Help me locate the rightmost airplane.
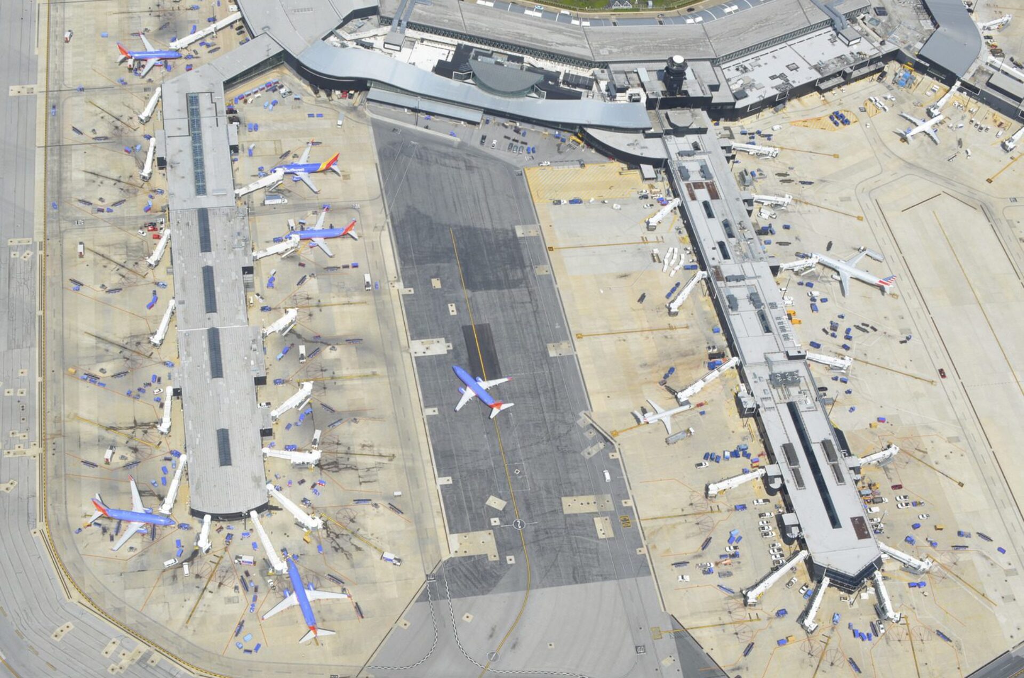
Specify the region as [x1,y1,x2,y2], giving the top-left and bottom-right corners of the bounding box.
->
[900,112,944,141]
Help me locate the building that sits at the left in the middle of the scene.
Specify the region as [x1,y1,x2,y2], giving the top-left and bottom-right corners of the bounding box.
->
[156,39,277,524]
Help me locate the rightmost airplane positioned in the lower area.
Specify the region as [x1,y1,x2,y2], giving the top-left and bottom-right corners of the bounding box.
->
[639,399,694,433]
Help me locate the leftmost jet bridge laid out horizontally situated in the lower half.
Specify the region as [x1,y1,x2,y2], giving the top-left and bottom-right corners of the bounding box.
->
[262,447,326,468]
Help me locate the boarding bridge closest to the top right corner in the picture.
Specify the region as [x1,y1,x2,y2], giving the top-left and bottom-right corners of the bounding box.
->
[978,15,1011,33]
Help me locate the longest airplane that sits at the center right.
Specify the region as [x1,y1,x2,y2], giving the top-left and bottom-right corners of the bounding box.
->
[809,251,895,293]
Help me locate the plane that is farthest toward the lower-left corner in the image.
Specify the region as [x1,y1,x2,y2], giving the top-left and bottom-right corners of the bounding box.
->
[88,476,176,551]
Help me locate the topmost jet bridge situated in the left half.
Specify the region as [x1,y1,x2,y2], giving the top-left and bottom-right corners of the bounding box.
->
[168,14,238,52]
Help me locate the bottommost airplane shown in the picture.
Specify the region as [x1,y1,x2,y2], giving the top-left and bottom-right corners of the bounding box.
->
[261,560,350,643]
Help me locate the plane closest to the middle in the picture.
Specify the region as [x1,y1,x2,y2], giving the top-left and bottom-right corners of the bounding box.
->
[452,367,515,418]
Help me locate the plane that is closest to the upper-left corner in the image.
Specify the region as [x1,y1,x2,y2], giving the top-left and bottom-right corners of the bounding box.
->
[116,30,182,76]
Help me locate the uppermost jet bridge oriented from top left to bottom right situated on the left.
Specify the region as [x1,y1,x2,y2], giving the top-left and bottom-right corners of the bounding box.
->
[266,482,327,533]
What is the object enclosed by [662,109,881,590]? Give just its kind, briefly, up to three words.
building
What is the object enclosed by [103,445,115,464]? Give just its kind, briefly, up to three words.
vehicle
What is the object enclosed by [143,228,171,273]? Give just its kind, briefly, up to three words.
jet bridge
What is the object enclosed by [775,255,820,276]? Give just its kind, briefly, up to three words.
jet bridge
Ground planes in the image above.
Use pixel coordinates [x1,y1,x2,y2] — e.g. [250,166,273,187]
[261,560,350,643]
[116,30,182,76]
[639,399,694,433]
[286,205,358,259]
[88,476,176,551]
[900,112,944,141]
[809,251,895,293]
[452,367,515,418]
[272,141,341,192]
